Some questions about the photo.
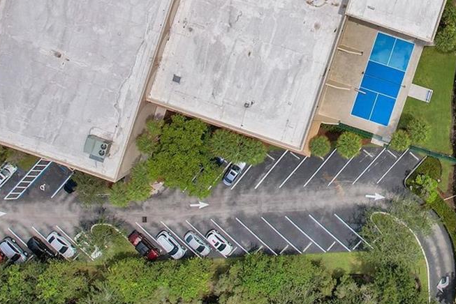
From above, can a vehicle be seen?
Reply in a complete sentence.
Yes, the picture does show a vehicle.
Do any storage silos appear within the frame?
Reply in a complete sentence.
No, the frame has no storage silo in it.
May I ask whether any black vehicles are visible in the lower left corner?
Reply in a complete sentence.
Yes, there is a black vehicle in the lower left corner.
